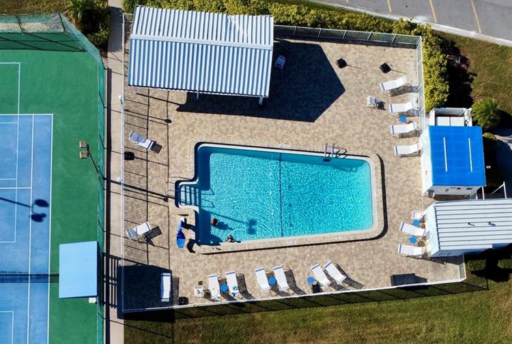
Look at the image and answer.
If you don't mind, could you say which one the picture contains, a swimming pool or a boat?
swimming pool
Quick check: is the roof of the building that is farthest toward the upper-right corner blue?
Yes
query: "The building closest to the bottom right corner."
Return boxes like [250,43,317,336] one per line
[426,198,512,257]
